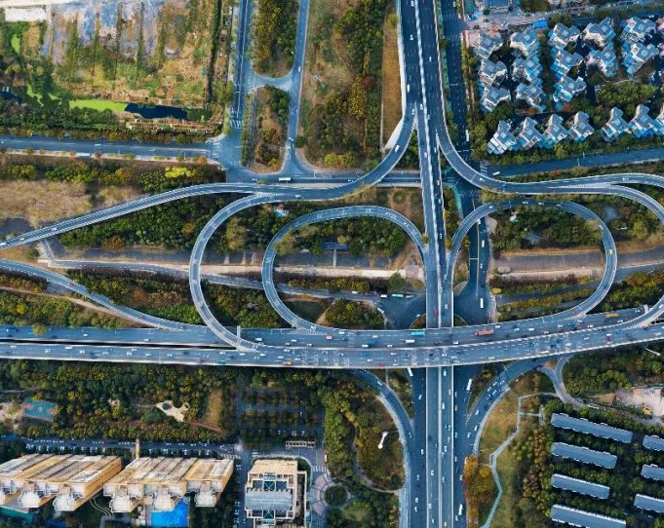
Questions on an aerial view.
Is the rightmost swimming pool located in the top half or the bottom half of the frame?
bottom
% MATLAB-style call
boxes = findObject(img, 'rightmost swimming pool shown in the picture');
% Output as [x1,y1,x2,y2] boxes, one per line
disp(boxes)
[149,497,190,528]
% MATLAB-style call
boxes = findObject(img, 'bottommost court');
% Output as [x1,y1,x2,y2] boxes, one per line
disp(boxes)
[22,398,56,420]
